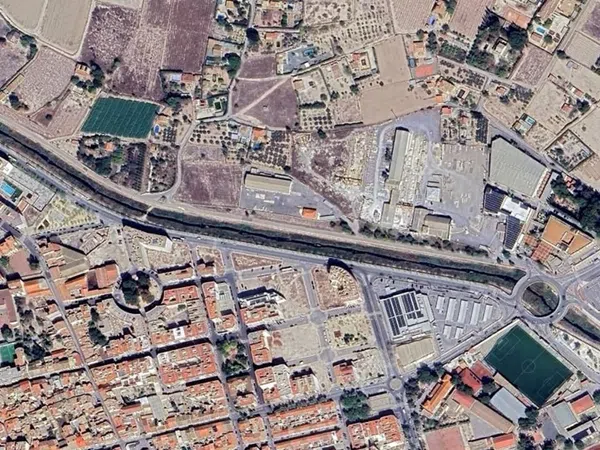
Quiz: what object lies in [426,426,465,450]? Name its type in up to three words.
sports court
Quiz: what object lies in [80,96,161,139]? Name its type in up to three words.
sports field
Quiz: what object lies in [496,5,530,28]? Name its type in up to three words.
house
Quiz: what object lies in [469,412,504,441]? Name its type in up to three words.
building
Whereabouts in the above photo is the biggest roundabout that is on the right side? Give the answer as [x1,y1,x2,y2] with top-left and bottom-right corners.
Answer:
[517,274,566,323]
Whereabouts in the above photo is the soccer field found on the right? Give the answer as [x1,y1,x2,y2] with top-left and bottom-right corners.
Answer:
[473,319,579,411]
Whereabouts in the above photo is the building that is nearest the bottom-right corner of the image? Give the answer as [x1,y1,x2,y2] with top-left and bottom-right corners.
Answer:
[564,422,598,445]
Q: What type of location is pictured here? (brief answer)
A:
residential area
